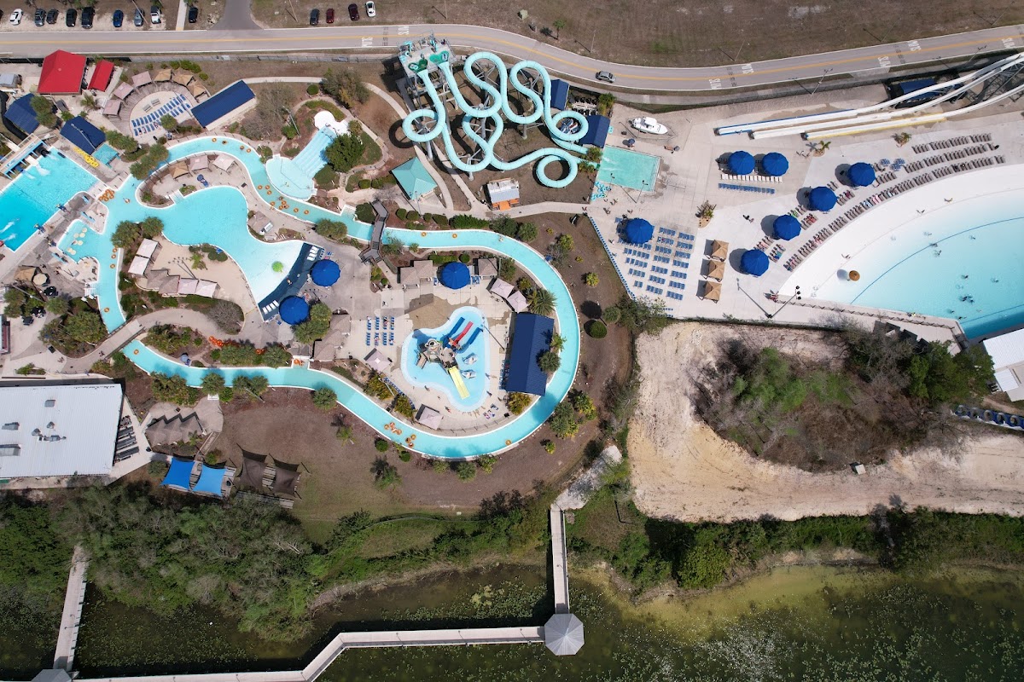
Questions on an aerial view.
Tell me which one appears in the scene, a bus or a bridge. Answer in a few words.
bridge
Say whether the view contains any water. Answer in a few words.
Yes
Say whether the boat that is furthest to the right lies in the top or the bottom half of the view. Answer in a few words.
top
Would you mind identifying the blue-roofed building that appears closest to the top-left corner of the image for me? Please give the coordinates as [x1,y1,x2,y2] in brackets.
[5,93,53,137]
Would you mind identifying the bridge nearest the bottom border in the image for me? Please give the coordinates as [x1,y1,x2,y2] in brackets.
[101,317,139,353]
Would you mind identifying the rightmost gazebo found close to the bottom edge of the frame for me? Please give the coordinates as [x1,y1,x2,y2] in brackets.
[545,614,582,655]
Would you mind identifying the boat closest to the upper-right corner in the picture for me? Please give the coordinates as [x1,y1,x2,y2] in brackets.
[629,112,669,132]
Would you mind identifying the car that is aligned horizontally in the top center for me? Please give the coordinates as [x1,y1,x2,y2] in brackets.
[595,69,617,81]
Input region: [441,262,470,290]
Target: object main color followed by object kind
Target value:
blue umbrella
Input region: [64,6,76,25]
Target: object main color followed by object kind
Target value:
black vehicle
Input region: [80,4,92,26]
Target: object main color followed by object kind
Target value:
black vehicle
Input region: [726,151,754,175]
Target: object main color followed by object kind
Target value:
blue umbrella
